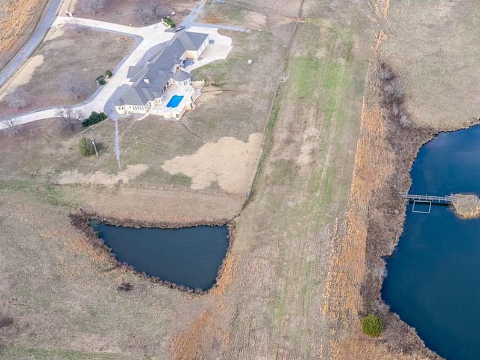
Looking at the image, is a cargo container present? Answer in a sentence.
No, no cargo container can be seen from above.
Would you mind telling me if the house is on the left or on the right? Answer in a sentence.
The house appears in the left half of the scene.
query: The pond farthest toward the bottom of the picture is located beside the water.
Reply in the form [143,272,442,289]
[94,221,230,291]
